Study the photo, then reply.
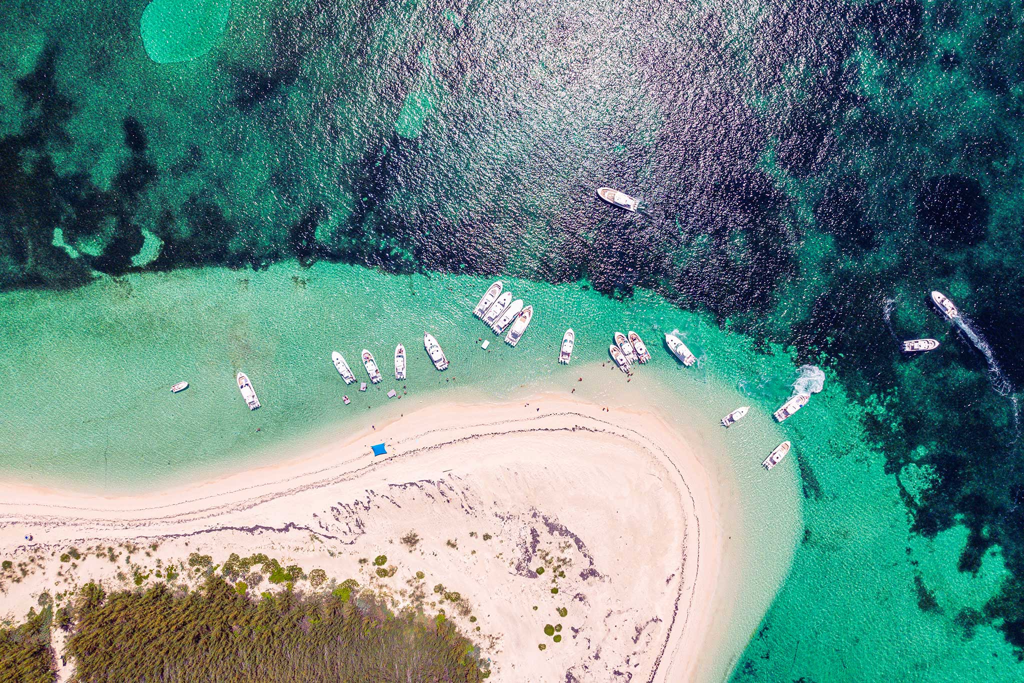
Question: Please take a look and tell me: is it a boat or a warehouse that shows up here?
boat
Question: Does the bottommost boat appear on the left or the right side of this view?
right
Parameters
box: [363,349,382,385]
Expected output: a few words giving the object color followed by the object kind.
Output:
white boat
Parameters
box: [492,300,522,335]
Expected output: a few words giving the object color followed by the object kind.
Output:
white boat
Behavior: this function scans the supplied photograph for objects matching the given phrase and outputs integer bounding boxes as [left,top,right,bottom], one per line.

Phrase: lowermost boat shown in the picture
[760,441,790,471]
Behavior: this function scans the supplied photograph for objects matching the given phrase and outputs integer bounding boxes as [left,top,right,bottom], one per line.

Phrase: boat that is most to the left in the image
[172,381,188,393]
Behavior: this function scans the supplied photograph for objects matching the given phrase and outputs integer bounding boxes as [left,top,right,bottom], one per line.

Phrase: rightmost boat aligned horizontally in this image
[899,339,939,352]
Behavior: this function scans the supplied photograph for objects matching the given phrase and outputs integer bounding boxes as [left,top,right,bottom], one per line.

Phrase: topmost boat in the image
[597,188,641,214]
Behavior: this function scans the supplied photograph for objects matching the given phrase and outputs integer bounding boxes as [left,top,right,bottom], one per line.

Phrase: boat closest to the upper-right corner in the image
[931,291,958,321]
